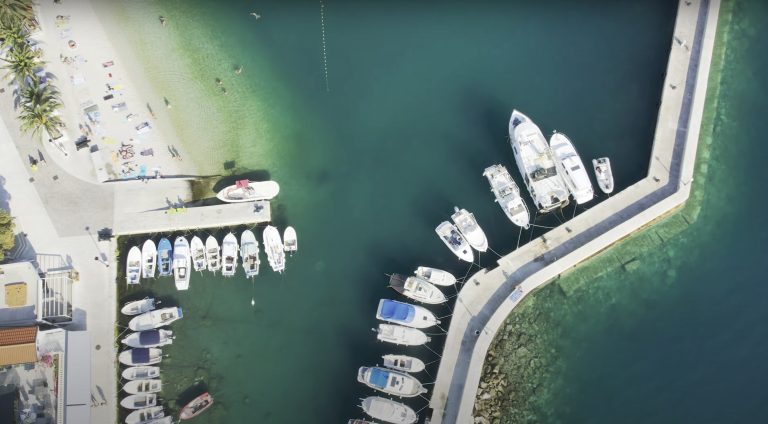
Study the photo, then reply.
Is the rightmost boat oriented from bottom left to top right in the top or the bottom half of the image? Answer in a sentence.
The rightmost boat oriented from bottom left to top right sits in the bottom half of the picture.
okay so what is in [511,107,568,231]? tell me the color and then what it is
white boat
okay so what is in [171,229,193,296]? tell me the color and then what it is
white boat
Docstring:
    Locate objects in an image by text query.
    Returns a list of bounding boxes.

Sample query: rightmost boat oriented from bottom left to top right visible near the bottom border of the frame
[179,392,218,423]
